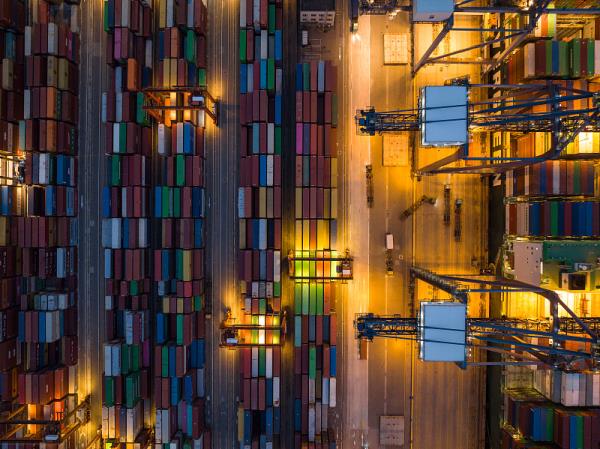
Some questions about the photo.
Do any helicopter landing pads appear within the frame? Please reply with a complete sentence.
No, no helicopter landing pad is visible in the scene.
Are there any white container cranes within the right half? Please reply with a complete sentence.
No, no white container crane is visible within the right half.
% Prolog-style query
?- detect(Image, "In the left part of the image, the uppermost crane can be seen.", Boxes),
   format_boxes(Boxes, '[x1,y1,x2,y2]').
[142,87,218,127]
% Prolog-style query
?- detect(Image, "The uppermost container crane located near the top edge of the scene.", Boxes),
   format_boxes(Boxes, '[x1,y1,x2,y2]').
[350,0,600,83]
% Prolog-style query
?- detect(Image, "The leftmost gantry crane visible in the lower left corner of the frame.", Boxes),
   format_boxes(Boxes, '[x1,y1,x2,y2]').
[0,393,94,444]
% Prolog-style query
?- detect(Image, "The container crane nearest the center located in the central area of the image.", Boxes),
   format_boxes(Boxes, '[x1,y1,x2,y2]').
[288,251,354,281]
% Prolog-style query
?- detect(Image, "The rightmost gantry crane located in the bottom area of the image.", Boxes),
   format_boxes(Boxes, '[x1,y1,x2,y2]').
[356,267,600,370]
